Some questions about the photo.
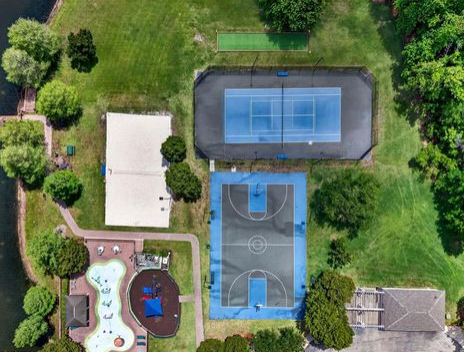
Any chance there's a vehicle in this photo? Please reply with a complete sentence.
No, no vehicle is visible in the view.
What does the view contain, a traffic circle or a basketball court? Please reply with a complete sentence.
Of the two, only a basketball court appears.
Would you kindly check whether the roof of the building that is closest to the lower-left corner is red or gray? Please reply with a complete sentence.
In this view, the roof of the building that is closest to the lower-left corner is gray.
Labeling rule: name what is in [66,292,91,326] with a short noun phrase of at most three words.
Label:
building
